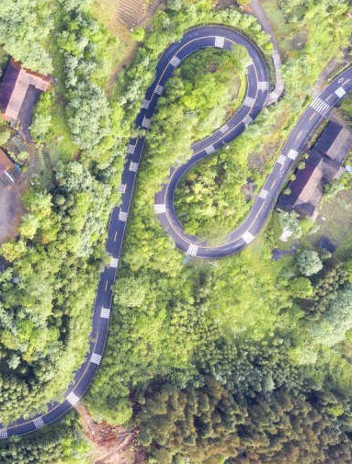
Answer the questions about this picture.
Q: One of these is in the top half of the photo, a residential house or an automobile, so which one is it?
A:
residential house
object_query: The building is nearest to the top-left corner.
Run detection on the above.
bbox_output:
[0,63,55,123]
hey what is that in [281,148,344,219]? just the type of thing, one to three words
house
